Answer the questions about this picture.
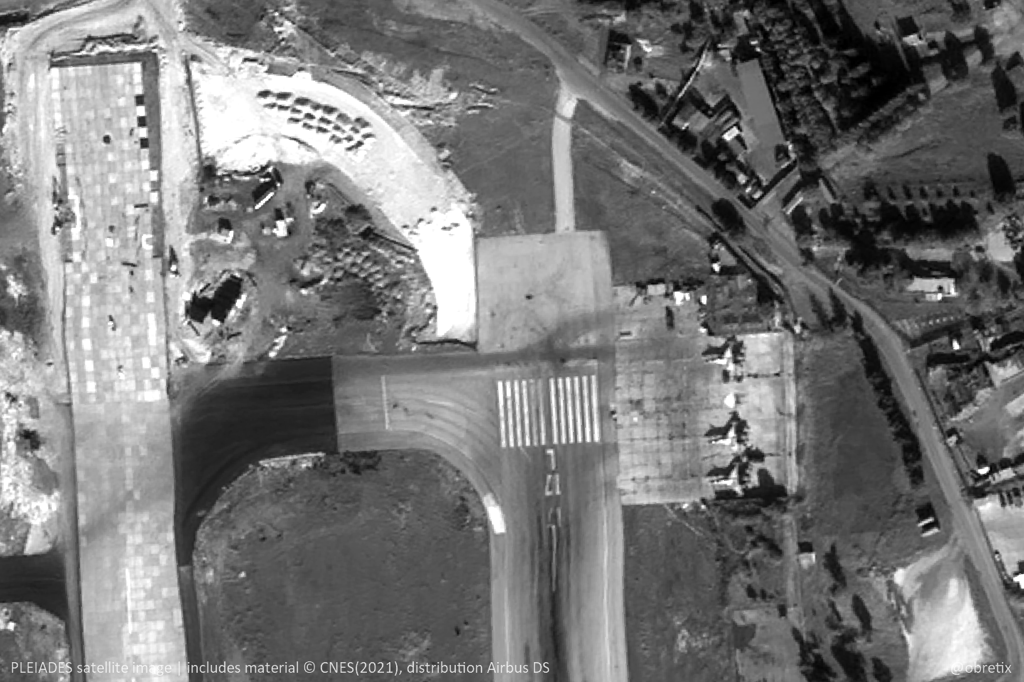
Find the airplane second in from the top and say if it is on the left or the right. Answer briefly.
right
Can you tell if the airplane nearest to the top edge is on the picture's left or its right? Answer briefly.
right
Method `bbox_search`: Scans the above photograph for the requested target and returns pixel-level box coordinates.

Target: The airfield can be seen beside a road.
[0,62,798,682]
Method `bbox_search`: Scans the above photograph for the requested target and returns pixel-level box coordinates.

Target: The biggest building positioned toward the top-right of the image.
[738,59,785,151]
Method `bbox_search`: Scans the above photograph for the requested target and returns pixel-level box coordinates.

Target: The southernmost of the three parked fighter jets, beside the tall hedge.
[713,469,752,494]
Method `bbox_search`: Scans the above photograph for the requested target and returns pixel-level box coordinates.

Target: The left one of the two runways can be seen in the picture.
[51,62,190,682]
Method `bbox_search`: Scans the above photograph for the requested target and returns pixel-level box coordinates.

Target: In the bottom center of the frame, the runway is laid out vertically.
[491,346,628,682]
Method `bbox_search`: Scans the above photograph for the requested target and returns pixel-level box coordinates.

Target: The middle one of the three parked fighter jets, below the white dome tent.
[712,427,750,452]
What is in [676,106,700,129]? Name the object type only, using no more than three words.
house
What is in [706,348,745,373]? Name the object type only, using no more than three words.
airplane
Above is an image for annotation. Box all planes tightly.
[712,427,750,452]
[713,469,752,494]
[706,348,745,373]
